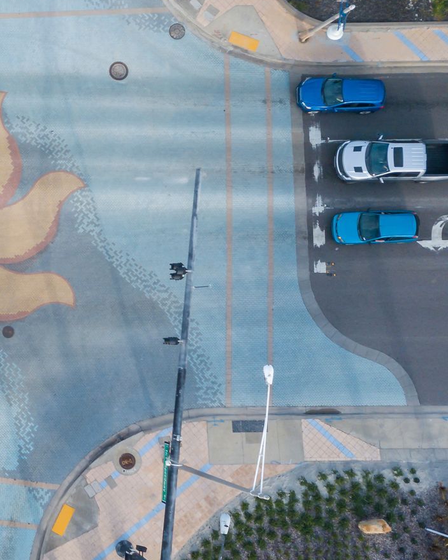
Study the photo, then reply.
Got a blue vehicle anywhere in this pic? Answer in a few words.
Yes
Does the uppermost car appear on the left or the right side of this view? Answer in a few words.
right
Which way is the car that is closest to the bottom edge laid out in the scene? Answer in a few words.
horizontally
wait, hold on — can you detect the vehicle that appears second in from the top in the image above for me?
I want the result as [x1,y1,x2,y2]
[331,134,448,186]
